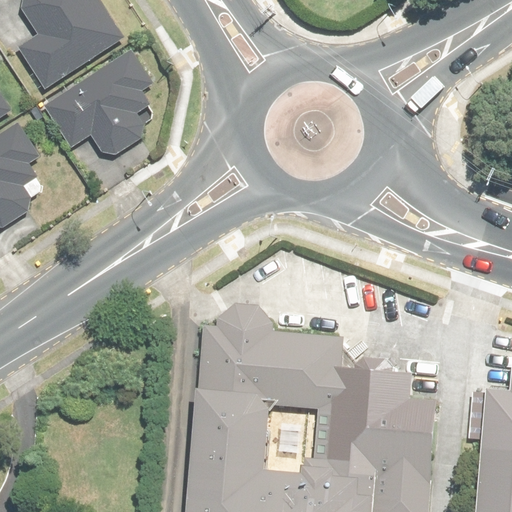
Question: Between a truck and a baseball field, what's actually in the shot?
truck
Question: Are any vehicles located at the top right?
Yes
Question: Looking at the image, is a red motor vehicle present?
Yes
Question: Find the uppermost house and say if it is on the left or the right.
left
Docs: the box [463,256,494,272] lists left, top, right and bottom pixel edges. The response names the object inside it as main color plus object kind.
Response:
red car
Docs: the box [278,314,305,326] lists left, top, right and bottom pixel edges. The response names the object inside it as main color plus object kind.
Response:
white vehicle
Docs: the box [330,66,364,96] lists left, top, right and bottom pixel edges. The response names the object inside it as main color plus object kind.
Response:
white van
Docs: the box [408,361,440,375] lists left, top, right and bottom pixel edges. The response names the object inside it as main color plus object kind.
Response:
white car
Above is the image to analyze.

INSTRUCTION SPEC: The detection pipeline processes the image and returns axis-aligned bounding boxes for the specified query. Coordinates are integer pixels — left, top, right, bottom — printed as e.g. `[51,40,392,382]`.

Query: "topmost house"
[18,0,124,90]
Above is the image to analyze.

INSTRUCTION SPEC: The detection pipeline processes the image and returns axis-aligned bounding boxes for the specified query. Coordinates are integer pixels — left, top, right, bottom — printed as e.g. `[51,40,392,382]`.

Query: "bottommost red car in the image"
[362,284,377,311]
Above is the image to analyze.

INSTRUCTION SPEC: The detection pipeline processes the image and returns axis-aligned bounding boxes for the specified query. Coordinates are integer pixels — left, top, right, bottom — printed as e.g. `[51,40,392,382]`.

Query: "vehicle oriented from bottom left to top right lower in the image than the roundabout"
[254,258,284,282]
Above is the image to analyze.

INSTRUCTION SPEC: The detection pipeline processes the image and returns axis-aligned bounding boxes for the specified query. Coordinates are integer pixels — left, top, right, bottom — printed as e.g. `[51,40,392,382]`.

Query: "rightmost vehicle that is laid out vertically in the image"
[383,290,398,322]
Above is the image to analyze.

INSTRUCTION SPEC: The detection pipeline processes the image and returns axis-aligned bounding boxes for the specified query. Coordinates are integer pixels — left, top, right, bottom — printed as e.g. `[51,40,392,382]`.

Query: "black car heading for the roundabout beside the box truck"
[449,47,480,74]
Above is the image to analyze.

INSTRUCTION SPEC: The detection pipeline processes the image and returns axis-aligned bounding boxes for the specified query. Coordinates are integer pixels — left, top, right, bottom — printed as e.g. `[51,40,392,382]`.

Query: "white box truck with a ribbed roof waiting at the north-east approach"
[402,76,445,118]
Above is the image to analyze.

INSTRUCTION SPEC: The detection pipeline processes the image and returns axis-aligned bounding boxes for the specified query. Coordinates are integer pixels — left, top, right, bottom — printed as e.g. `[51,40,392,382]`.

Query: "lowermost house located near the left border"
[0,122,44,227]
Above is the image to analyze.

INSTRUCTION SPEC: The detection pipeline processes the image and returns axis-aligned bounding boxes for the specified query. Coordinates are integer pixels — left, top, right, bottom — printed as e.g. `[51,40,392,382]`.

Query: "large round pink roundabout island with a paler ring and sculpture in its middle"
[264,82,364,182]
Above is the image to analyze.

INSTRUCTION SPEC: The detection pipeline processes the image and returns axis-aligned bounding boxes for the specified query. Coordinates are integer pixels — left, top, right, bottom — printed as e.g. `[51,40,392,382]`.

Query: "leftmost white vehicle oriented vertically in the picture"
[344,276,359,308]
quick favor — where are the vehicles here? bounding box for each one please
[330,66,364,96]
[402,76,445,118]
[412,379,438,392]
[362,284,377,311]
[310,317,338,331]
[490,336,512,350]
[463,256,494,272]
[383,290,398,322]
[254,258,284,282]
[344,276,359,308]
[408,361,440,375]
[481,208,512,228]
[486,370,512,383]
[484,354,512,368]
[449,47,480,74]
[403,301,432,318]
[278,314,305,326]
